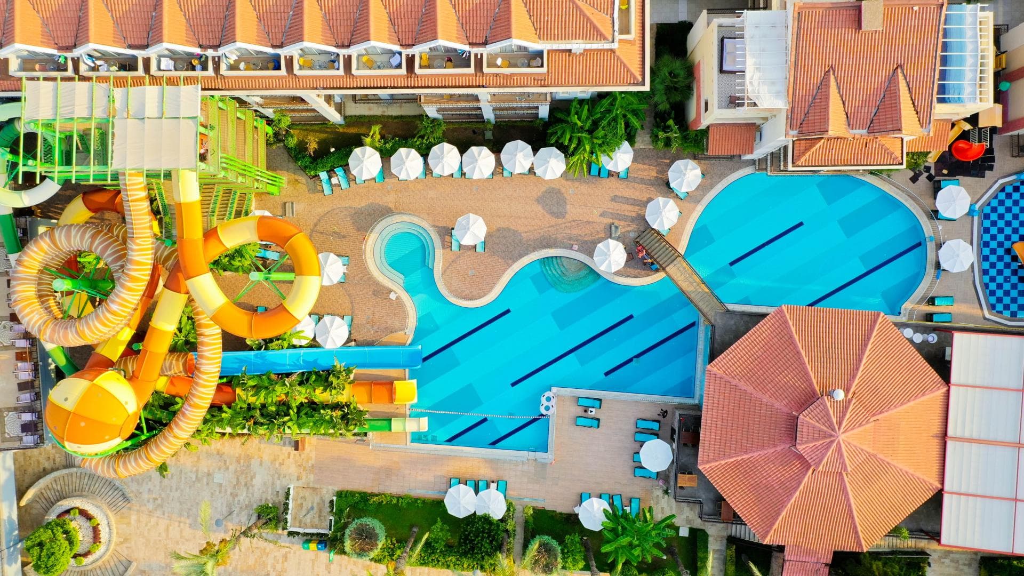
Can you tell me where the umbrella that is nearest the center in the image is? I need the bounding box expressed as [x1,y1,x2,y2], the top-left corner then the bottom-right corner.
[454,215,487,248]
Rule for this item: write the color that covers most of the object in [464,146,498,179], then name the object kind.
white umbrella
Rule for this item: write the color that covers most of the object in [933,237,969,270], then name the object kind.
white umbrella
